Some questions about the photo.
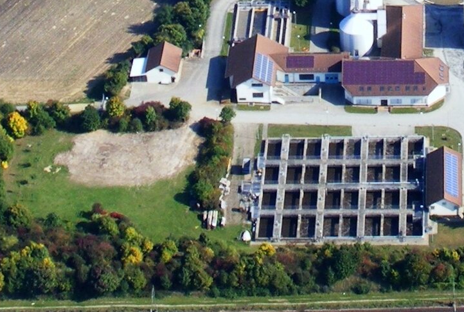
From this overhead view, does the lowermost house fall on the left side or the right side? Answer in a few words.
right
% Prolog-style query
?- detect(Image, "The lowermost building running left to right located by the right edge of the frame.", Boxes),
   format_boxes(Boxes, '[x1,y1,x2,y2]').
[342,58,452,110]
